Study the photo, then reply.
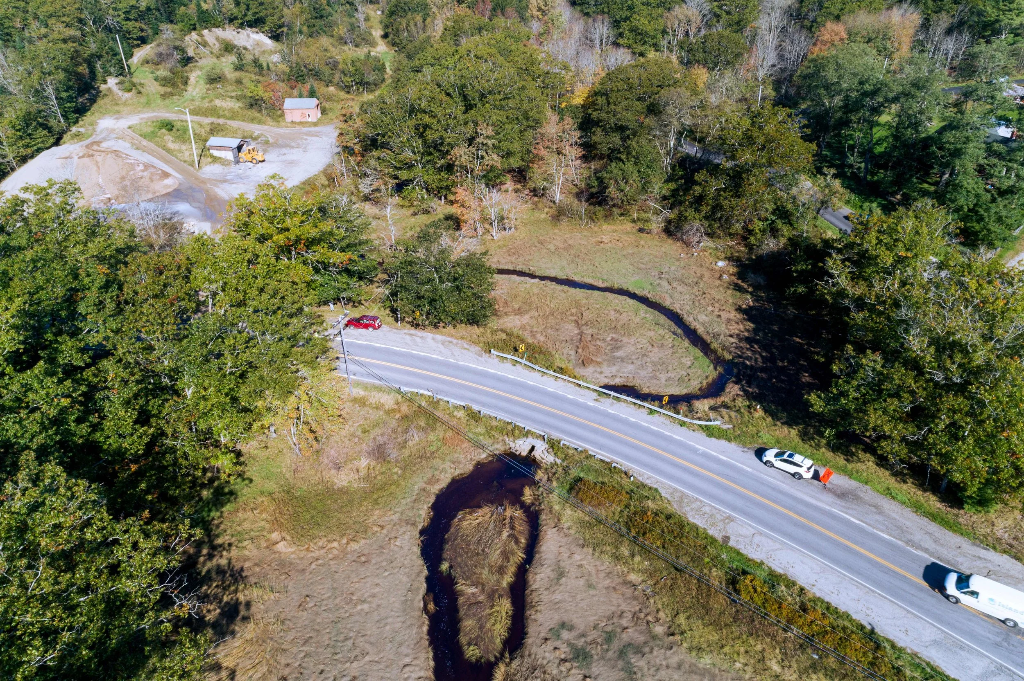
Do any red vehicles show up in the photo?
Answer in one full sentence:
Yes, looking at the shot, I can spot a red vehicle.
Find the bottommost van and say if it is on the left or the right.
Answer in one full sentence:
It is on the right.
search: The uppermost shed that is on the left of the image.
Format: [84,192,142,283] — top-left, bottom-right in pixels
[283,97,326,120]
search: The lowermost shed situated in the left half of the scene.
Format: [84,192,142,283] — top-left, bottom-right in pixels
[204,131,261,163]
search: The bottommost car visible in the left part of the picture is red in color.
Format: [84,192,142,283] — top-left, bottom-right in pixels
[344,314,383,332]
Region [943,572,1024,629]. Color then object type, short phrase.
white van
